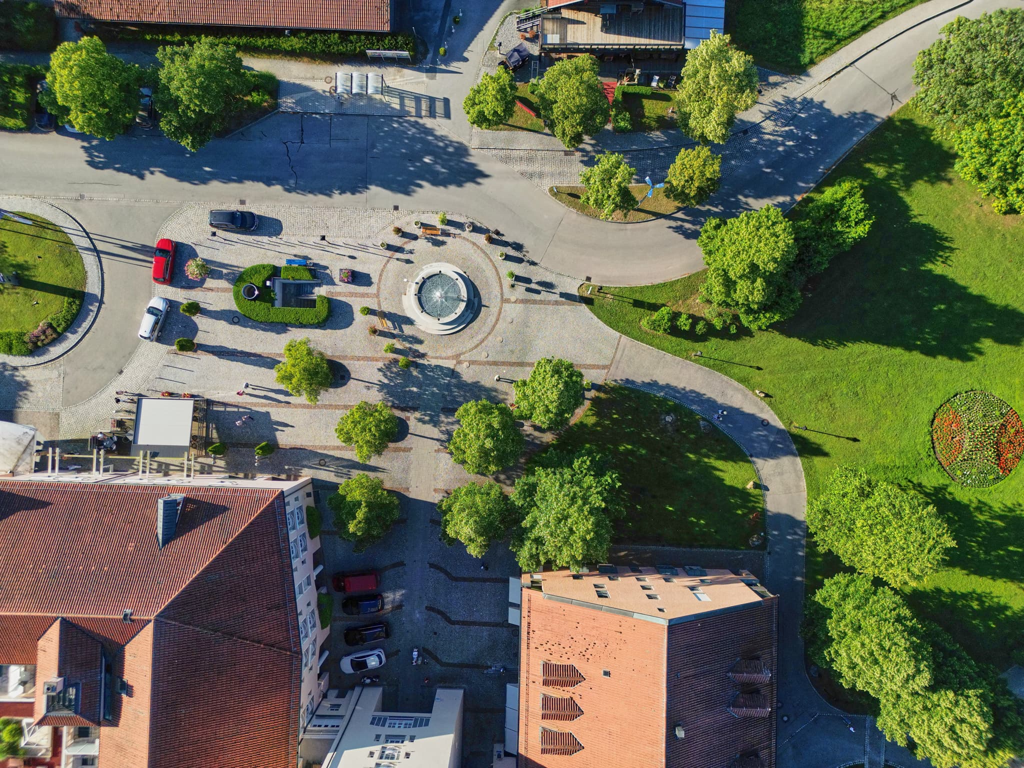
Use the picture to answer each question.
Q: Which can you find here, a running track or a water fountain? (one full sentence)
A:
I can see a water fountain in this picture.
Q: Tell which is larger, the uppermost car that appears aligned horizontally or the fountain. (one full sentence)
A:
The car is smaller than the fountain.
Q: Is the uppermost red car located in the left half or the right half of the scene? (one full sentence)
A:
The uppermost red car sits on the left side.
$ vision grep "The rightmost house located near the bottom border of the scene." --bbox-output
[517,563,781,768]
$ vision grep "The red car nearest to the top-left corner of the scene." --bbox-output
[154,239,179,284]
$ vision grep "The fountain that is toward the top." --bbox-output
[402,261,478,335]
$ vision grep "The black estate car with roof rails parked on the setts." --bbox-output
[207,209,259,233]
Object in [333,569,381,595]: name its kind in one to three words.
vehicle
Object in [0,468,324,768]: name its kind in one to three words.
building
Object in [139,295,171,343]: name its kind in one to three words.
car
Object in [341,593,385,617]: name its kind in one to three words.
car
